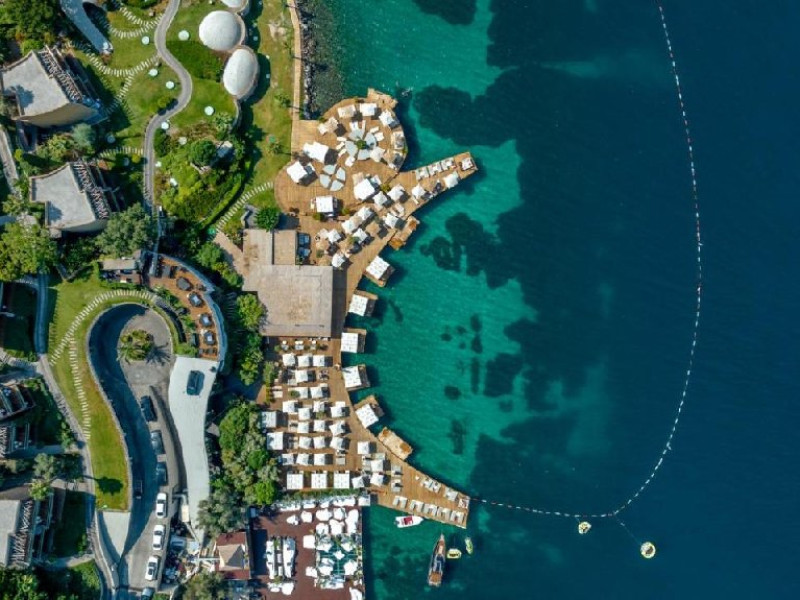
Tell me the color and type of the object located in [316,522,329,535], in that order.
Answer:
white umbrella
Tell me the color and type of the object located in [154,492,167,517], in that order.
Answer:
white vehicle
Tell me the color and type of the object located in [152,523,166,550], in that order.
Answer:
white vehicle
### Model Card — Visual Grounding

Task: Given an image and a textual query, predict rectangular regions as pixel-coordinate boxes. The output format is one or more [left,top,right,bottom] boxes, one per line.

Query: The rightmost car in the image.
[188,370,202,396]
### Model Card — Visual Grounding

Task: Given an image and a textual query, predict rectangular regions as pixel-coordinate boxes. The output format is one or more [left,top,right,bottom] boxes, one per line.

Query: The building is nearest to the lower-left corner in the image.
[0,489,60,570]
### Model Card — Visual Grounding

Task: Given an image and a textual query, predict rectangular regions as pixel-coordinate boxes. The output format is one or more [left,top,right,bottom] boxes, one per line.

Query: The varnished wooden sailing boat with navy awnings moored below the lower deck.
[427,537,445,589]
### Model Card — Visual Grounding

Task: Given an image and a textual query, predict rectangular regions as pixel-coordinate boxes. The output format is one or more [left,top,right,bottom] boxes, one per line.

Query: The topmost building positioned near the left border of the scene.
[1,42,116,127]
